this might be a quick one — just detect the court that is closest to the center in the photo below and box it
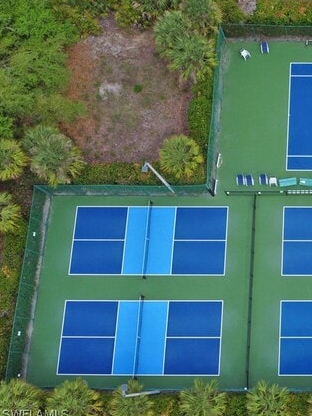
[69,207,228,275]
